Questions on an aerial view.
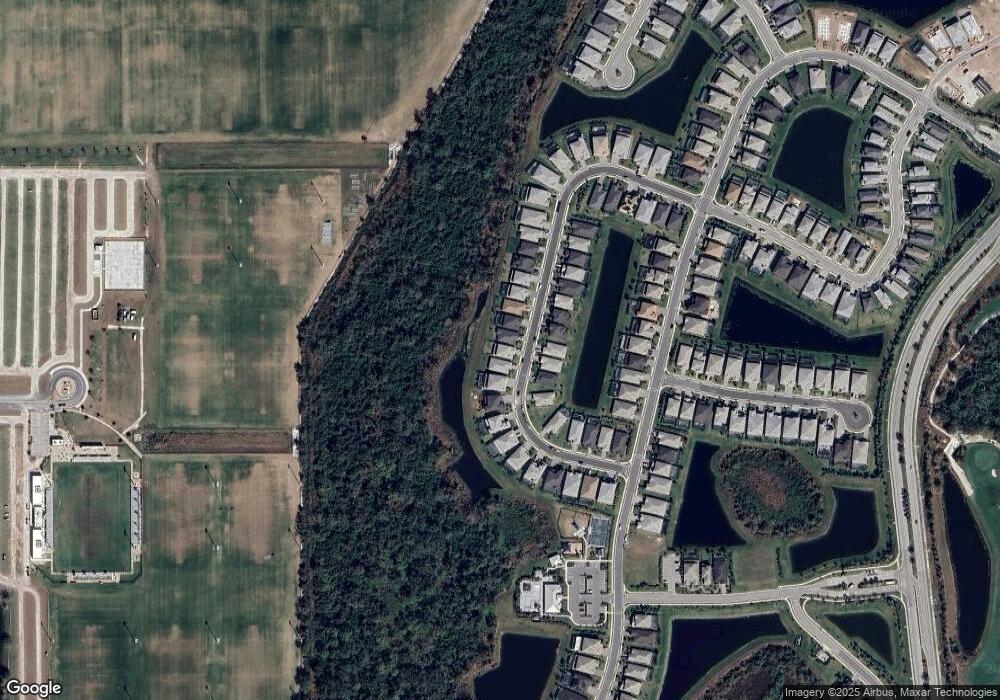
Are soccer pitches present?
Yes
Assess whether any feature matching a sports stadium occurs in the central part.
No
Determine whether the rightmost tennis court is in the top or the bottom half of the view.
bottom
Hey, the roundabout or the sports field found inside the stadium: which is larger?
the sports field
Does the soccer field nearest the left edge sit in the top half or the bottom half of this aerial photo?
top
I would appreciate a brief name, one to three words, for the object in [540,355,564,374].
house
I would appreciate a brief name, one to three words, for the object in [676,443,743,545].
pond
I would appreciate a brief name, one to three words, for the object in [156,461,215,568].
soccer field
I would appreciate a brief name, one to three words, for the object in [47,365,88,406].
roundabout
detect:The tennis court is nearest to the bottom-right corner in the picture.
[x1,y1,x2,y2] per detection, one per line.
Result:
[588,516,610,548]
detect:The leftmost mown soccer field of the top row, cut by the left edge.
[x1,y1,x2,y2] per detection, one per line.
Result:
[0,30,53,131]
